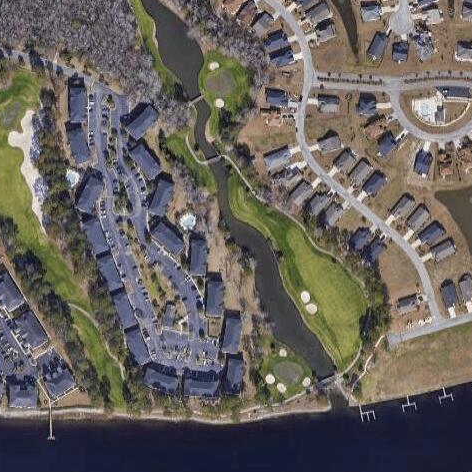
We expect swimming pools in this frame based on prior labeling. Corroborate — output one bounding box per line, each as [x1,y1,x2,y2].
[65,169,78,188]
[180,213,196,230]
[411,99,438,126]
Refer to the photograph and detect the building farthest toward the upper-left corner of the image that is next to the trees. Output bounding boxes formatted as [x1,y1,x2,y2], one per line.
[68,86,87,122]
